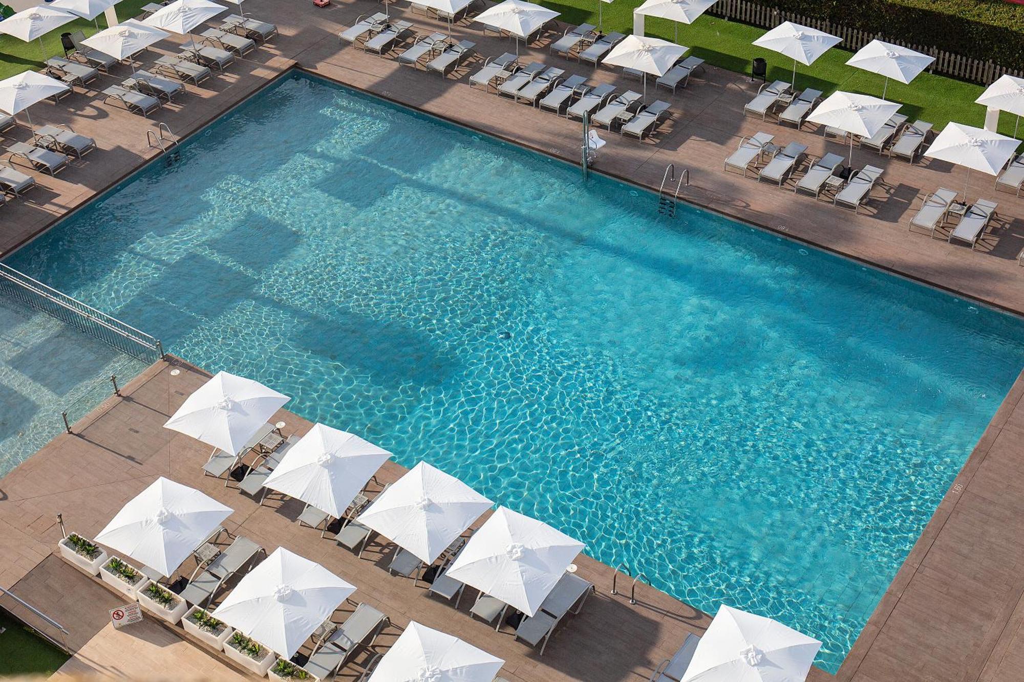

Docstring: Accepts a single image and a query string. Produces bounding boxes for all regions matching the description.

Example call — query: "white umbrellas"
[79,18,170,92]
[415,0,472,48]
[444,510,585,632]
[0,68,68,145]
[923,121,1020,206]
[844,39,936,102]
[366,622,505,682]
[637,0,720,43]
[472,0,560,72]
[48,0,128,32]
[262,425,394,537]
[210,549,358,666]
[94,478,235,595]
[163,373,292,480]
[751,20,842,99]
[137,0,225,64]
[807,89,900,173]
[602,33,690,110]
[354,464,493,583]
[970,74,1024,136]
[680,605,824,682]
[0,1,78,75]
